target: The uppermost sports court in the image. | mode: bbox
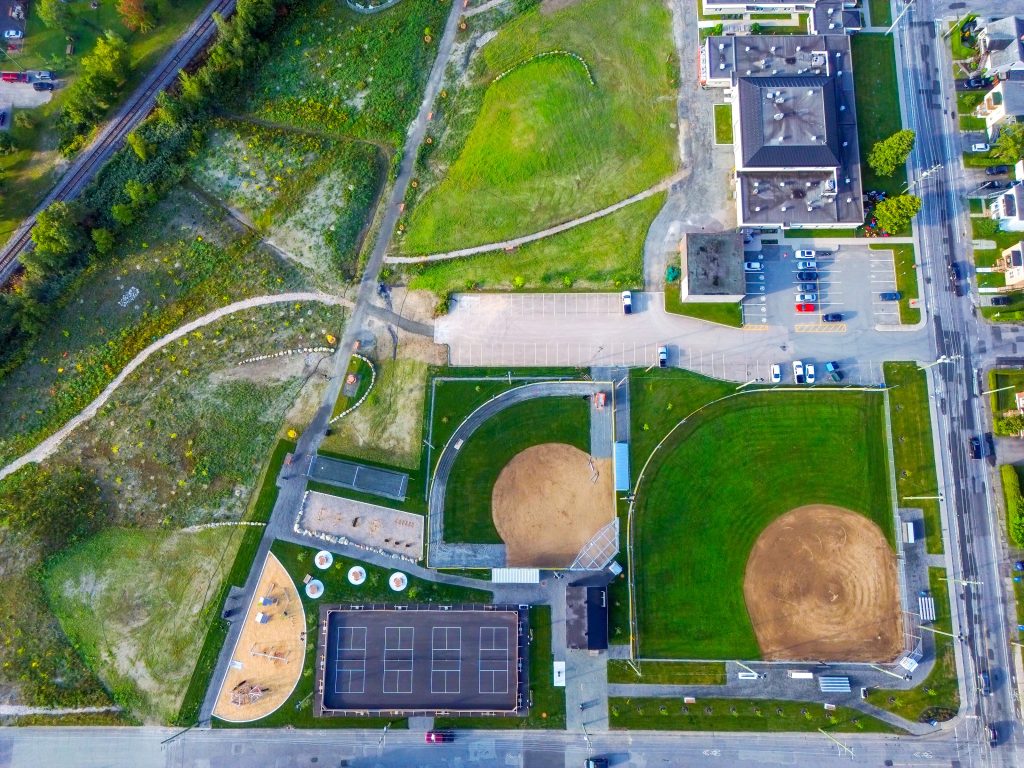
[307,454,408,501]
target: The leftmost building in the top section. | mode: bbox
[681,233,746,301]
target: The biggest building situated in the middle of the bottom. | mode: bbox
[566,587,609,657]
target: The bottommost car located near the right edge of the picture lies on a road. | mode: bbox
[986,723,1002,748]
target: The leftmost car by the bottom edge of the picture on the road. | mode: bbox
[426,732,449,745]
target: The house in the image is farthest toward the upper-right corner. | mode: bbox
[956,14,1024,77]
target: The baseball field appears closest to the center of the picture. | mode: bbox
[428,383,618,569]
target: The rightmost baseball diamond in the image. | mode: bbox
[630,389,905,665]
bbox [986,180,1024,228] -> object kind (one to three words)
house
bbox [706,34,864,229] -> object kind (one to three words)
building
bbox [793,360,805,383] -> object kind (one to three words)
vehicle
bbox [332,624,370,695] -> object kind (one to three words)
sports court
